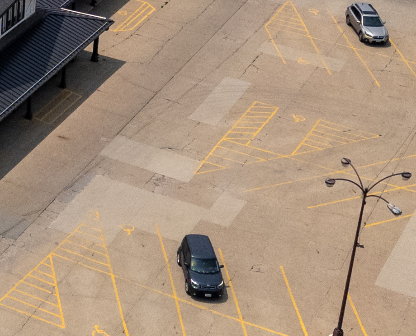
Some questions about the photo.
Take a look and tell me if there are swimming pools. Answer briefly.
No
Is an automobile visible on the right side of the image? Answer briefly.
Yes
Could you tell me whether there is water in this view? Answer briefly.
No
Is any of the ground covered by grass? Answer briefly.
No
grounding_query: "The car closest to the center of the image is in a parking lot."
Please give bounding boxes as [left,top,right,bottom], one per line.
[178,234,226,301]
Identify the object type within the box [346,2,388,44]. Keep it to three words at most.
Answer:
car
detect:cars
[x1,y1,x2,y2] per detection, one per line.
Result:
[346,2,388,44]
[178,234,226,301]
